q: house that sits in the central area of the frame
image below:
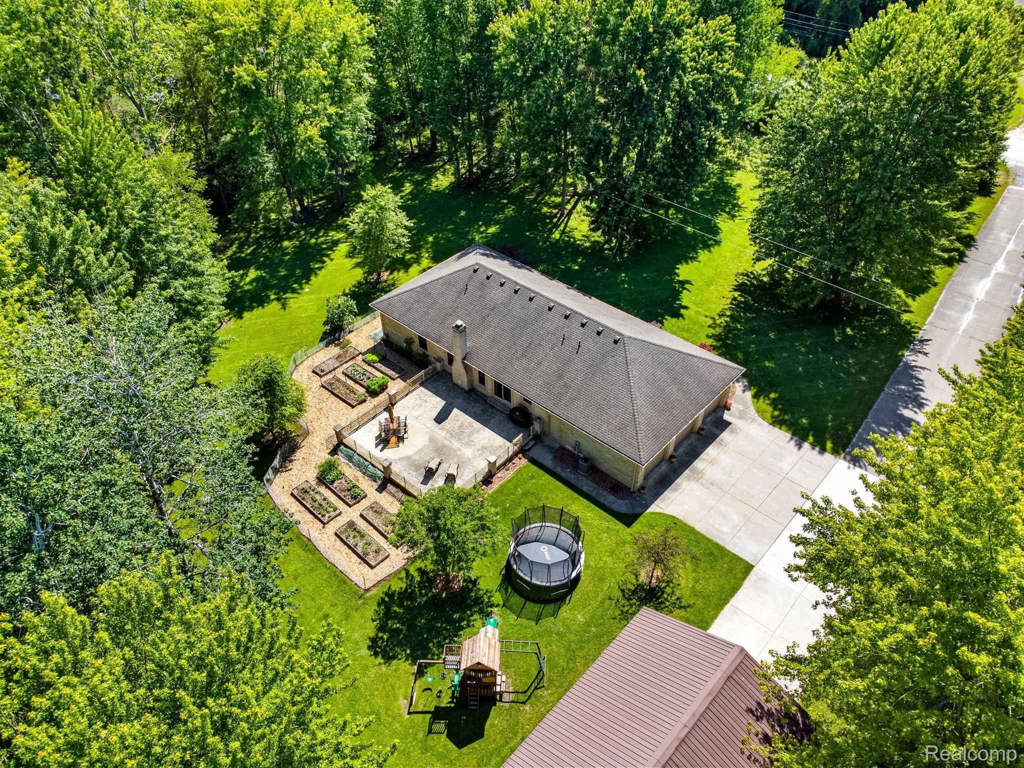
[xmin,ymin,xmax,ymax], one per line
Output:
[367,242,747,492]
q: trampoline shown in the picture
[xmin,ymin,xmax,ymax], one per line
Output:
[505,502,588,598]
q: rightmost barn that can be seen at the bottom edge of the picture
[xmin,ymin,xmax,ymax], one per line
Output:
[501,605,816,768]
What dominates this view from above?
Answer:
trees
